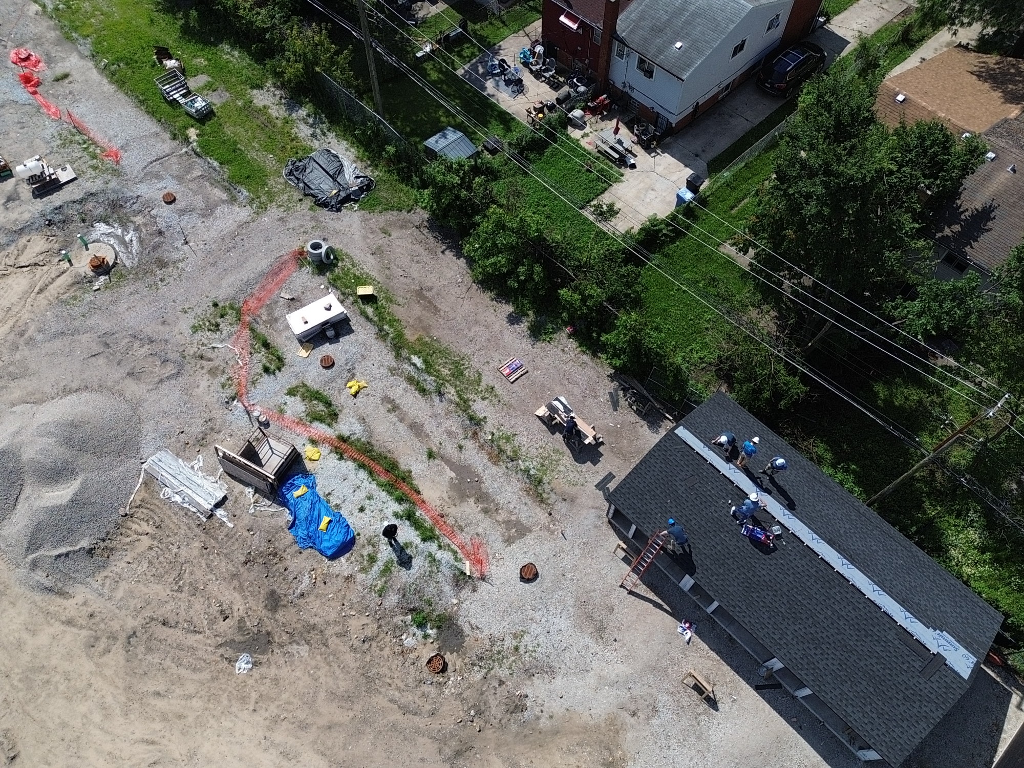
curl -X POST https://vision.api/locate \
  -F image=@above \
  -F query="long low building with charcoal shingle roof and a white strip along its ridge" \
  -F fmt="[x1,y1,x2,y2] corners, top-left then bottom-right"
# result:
[605,389,1004,768]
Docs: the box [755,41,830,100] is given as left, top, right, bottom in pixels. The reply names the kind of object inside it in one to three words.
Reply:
car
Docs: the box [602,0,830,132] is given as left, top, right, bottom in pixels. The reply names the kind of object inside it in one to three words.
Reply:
house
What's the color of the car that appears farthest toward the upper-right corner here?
black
